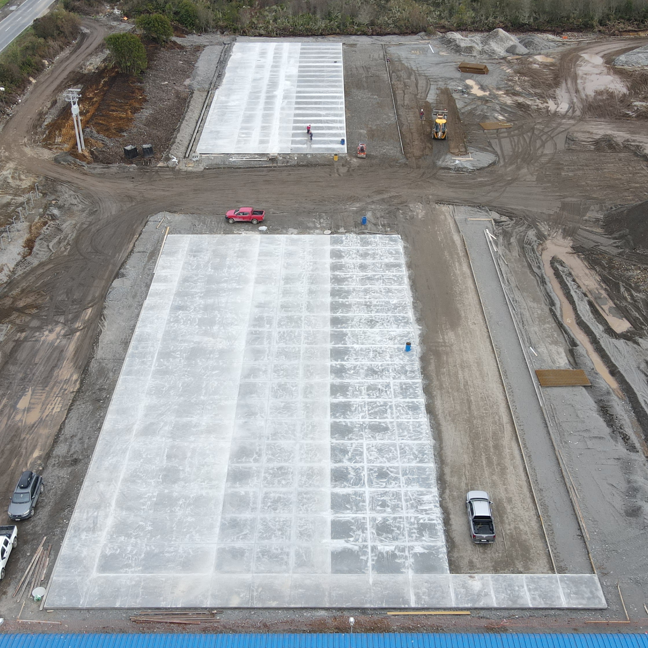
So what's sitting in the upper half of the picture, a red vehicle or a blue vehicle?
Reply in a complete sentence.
What appears in the upper half of the picture is a red vehicle.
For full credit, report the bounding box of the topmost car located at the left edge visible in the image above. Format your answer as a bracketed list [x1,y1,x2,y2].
[6,473,43,523]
